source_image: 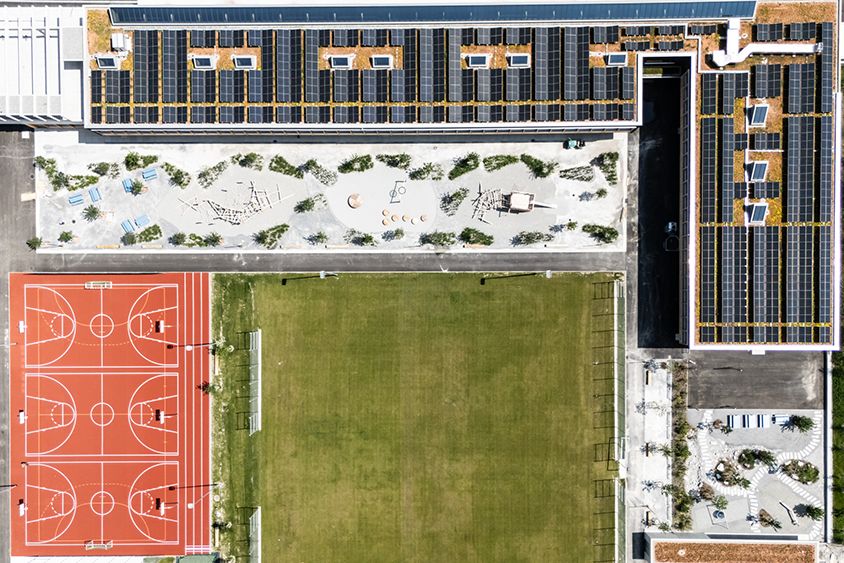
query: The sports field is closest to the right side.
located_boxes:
[256,275,619,563]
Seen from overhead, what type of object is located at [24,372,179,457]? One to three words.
basketball court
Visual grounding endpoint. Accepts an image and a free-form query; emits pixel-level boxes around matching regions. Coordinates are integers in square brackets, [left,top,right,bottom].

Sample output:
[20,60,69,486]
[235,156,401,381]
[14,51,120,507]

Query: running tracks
[184,273,210,552]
